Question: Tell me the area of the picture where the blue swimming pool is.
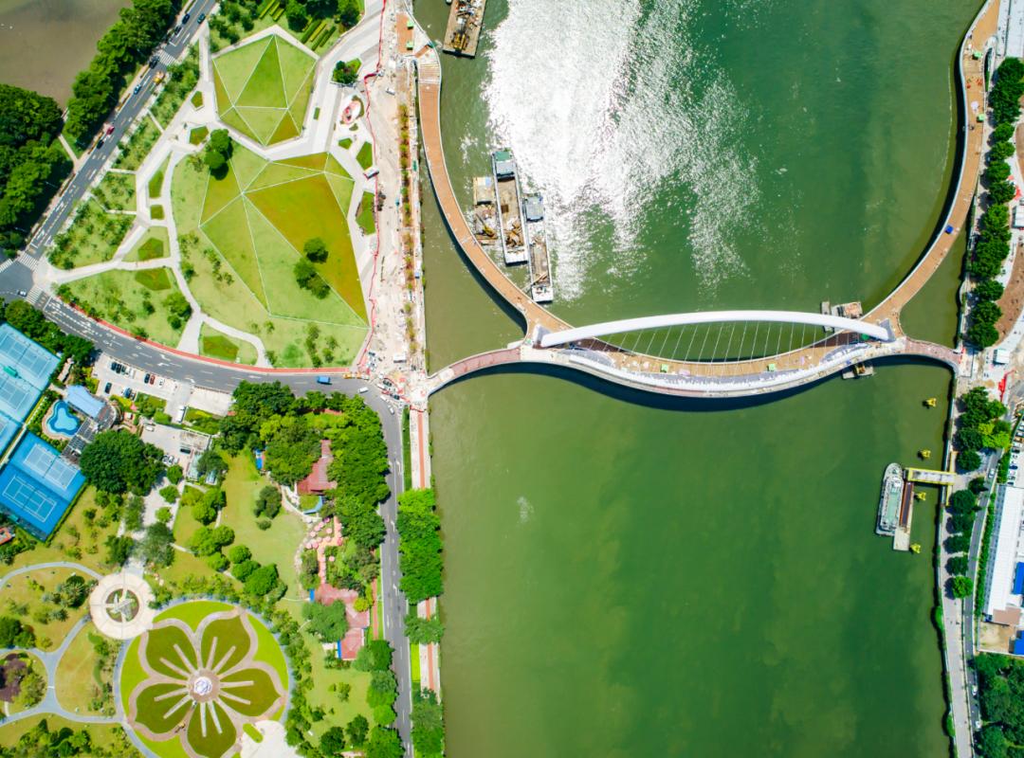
left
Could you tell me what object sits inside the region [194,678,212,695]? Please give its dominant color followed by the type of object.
white fountain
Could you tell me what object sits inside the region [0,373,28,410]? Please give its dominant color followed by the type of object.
blue tennis court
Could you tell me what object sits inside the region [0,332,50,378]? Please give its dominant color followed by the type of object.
blue tennis court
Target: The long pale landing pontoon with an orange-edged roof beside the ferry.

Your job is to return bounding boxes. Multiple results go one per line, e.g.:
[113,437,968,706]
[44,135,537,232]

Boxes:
[892,480,914,551]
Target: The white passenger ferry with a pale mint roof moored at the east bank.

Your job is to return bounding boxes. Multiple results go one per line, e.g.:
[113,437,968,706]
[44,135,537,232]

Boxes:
[876,463,903,536]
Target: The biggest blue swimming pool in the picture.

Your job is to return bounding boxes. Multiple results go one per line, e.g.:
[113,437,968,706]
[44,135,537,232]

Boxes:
[42,396,85,441]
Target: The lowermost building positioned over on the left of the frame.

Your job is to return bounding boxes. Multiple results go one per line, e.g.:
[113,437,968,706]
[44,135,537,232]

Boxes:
[341,627,365,661]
